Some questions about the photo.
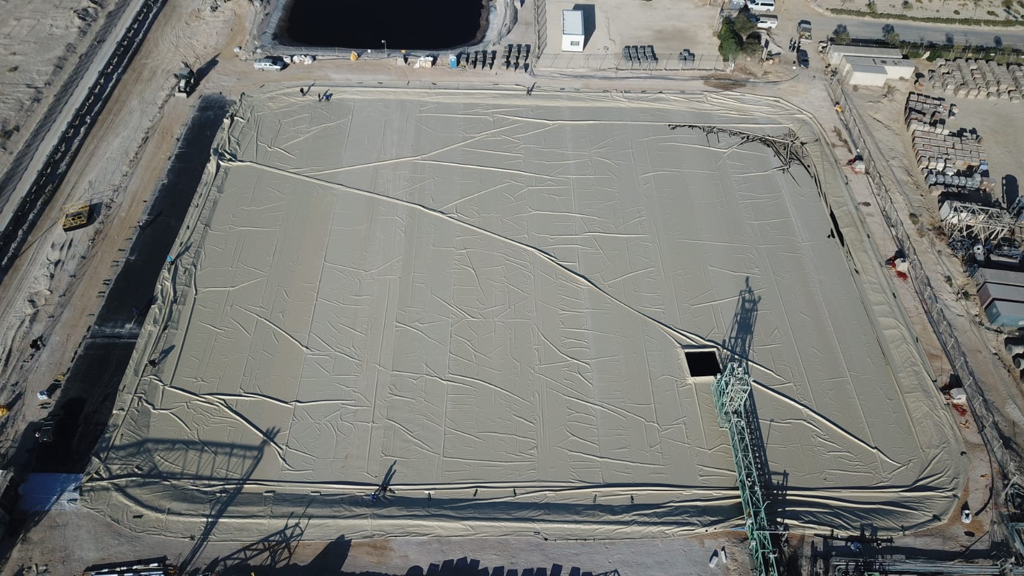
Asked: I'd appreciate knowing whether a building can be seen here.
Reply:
Yes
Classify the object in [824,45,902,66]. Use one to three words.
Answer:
building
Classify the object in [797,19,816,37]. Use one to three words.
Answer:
vehicle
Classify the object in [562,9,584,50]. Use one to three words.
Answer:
building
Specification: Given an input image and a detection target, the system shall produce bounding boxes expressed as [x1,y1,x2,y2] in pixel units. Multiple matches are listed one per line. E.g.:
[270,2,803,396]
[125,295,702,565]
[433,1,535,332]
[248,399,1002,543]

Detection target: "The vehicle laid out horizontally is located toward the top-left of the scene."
[251,55,285,70]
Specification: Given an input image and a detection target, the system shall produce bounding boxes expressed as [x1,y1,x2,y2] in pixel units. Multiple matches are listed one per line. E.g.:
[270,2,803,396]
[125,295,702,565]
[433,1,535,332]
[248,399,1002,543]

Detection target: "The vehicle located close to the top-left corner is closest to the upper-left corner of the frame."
[168,60,193,96]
